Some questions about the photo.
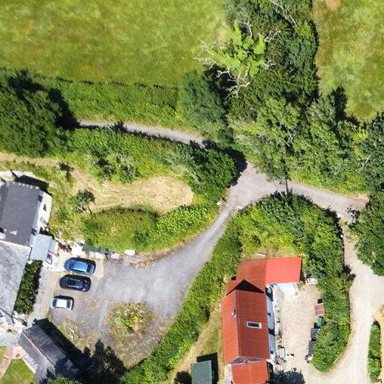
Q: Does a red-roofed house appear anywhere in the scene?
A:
Yes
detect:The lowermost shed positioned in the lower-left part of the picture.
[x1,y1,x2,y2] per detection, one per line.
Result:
[18,323,96,384]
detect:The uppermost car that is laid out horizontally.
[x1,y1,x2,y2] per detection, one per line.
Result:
[65,259,97,274]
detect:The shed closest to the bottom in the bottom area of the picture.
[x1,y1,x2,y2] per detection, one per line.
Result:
[191,360,219,384]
